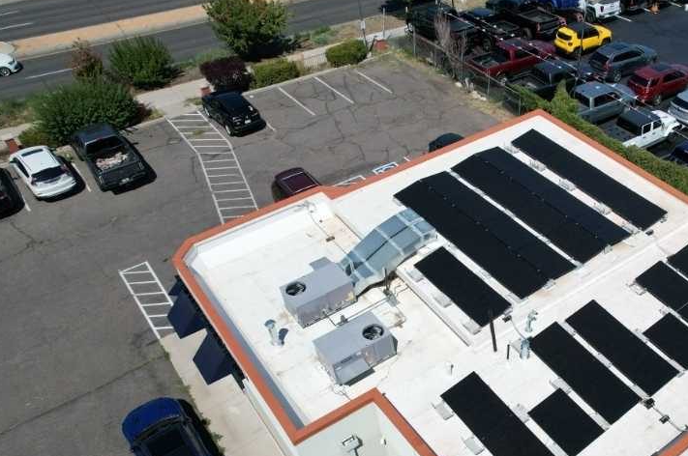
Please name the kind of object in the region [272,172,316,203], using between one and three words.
car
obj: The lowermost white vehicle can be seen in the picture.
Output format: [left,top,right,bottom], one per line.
[8,148,76,203]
